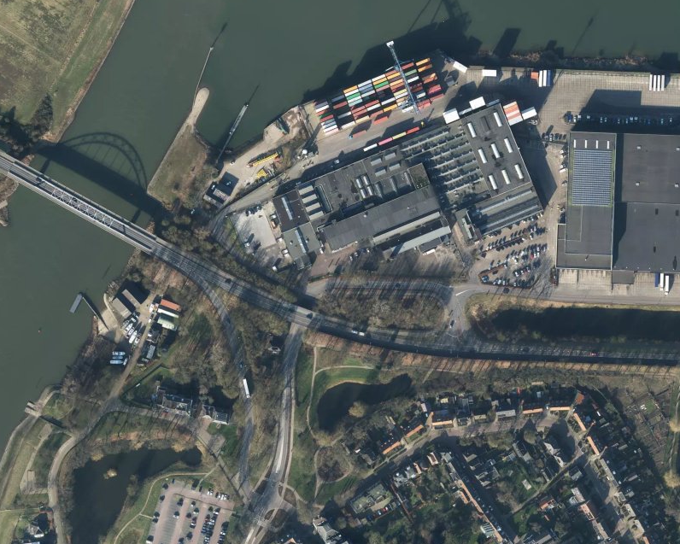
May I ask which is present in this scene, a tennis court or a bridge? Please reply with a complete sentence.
I can see a bridge in this picture.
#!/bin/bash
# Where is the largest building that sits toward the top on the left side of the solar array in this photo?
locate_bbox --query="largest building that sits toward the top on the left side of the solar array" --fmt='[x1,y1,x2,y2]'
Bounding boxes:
[272,102,543,268]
